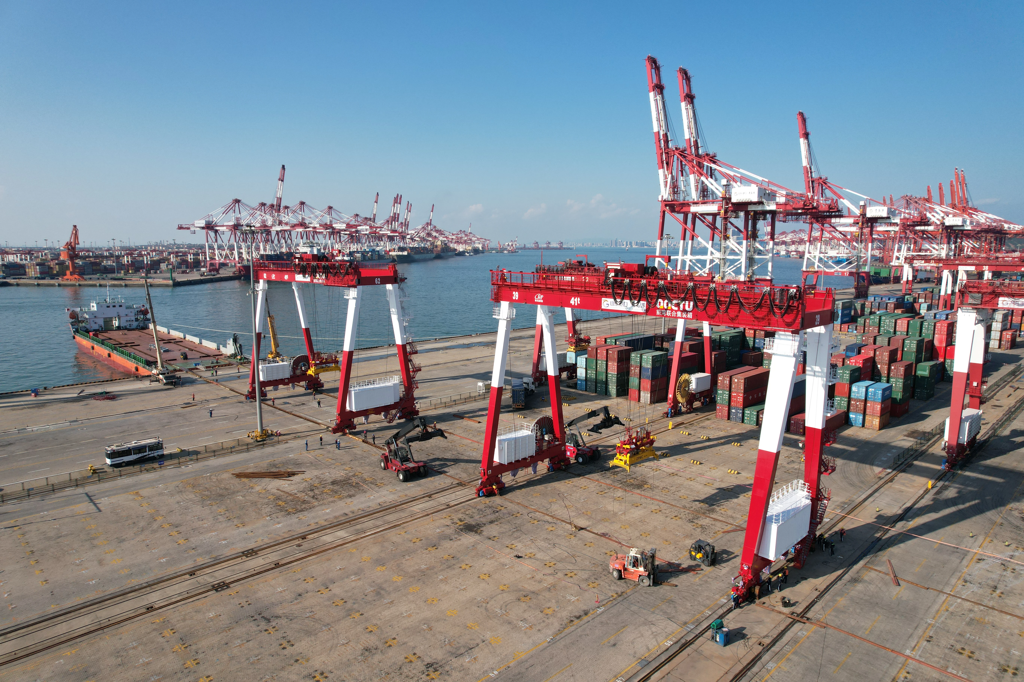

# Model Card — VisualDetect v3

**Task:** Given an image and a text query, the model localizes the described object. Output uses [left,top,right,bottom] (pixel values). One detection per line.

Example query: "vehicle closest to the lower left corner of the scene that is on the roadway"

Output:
[103,434,168,465]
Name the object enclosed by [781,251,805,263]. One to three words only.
ship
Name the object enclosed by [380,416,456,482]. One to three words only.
work vehicle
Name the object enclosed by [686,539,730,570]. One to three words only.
work vehicle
